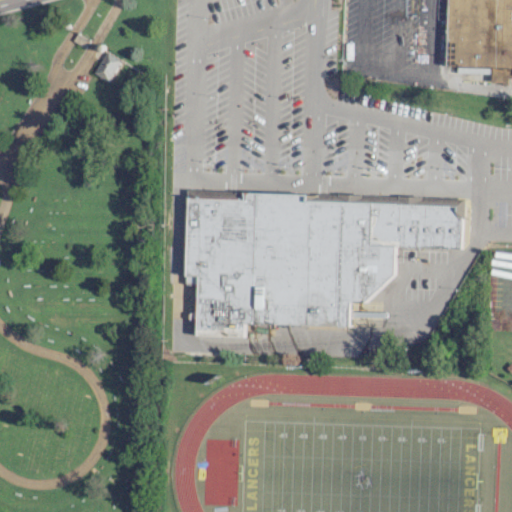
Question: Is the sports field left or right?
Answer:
right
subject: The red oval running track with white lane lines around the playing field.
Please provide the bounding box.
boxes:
[175,374,512,512]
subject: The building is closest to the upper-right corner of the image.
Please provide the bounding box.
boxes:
[446,0,512,86]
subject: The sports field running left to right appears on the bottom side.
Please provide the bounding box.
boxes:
[242,418,481,512]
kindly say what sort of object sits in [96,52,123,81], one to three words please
house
